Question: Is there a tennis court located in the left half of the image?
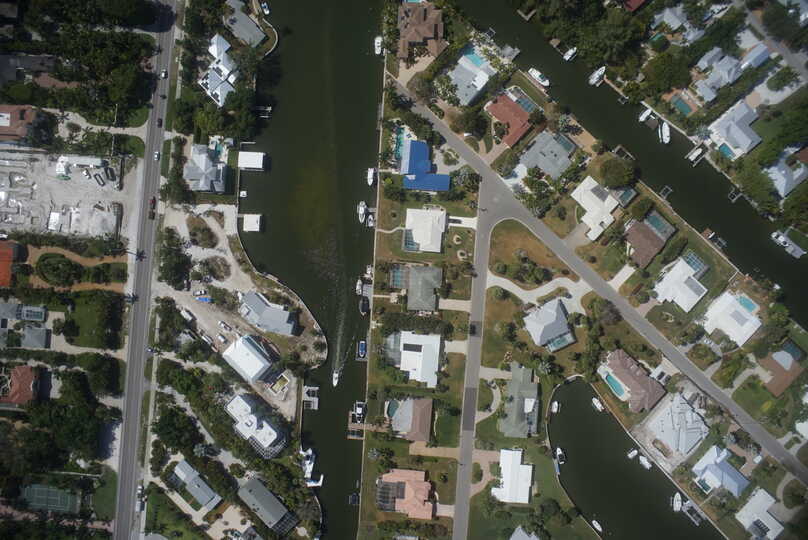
Yes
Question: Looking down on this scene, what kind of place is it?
residential area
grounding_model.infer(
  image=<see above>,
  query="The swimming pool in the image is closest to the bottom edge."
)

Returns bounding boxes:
[694,476,721,495]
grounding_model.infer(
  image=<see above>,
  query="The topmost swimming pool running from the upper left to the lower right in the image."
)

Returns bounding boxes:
[460,45,497,77]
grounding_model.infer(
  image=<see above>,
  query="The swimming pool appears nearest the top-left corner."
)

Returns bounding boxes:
[208,136,229,164]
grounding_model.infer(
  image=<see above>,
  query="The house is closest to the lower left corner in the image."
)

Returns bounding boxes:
[0,366,38,407]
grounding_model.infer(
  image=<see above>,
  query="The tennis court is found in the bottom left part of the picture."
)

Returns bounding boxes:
[17,482,77,518]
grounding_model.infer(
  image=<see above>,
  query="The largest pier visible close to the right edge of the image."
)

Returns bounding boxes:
[770,227,806,258]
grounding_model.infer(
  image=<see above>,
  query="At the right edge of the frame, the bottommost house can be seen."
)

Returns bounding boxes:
[735,489,784,540]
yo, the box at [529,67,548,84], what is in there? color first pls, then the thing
white boat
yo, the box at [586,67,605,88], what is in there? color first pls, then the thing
white boat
